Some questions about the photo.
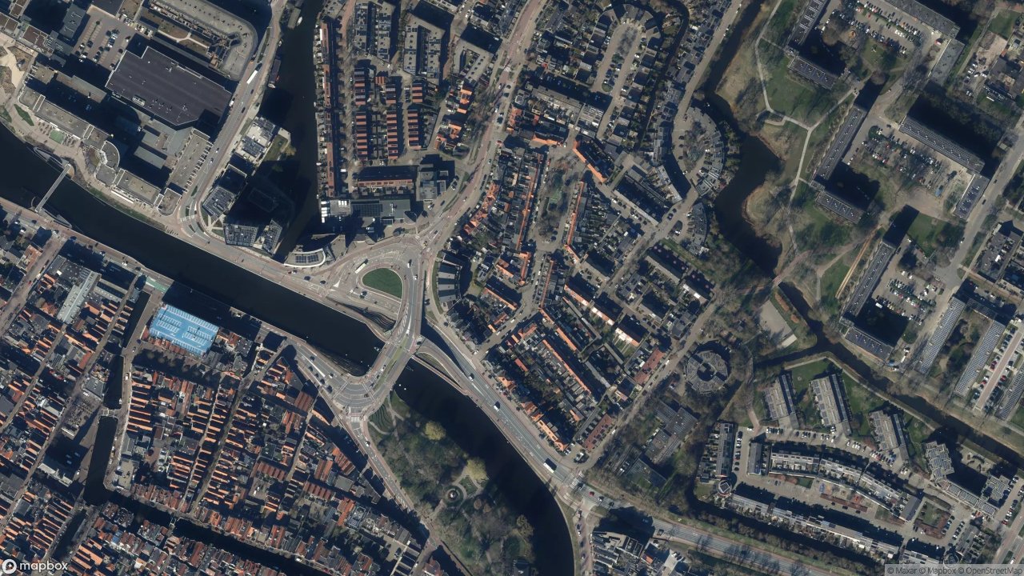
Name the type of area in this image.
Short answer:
residential area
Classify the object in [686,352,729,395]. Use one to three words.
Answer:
house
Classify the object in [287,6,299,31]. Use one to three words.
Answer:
boat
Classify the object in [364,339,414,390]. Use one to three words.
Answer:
bridge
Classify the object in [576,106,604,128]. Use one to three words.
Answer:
building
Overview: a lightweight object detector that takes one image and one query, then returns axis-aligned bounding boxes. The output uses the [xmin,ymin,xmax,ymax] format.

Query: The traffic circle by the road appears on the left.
[357,264,407,301]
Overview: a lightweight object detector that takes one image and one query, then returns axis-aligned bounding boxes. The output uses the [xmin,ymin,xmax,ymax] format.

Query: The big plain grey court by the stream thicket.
[759,300,797,346]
